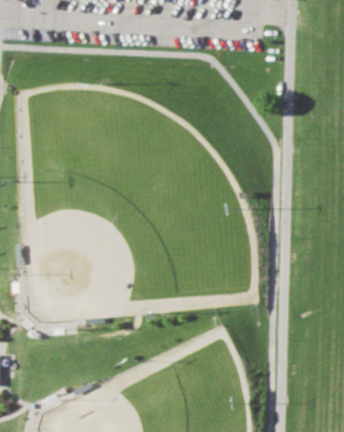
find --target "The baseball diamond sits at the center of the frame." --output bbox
[16,84,260,322]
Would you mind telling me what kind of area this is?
sports ground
